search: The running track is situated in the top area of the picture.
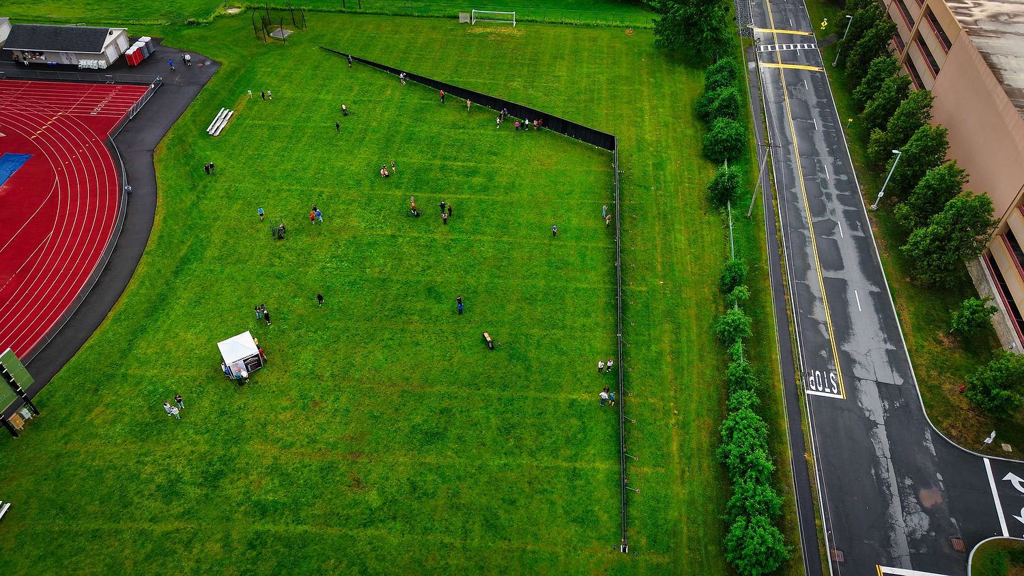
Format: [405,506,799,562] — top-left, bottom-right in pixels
[0,79,155,363]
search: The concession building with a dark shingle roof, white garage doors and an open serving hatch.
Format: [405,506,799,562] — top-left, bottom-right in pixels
[3,23,131,66]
